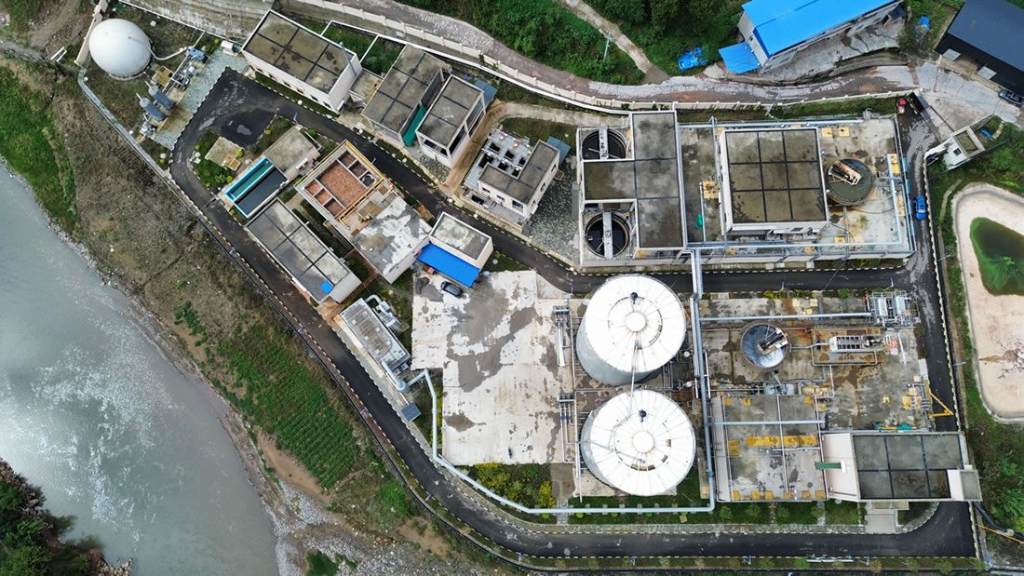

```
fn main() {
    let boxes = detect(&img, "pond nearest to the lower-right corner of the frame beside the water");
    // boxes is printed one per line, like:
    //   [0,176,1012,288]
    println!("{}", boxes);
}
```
[951,181,1024,424]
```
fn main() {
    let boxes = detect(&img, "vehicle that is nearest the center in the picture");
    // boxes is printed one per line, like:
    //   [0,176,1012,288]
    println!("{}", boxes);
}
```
[439,280,465,299]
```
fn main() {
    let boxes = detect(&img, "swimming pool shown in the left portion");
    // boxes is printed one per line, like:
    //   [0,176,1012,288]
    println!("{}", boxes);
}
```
[220,159,292,220]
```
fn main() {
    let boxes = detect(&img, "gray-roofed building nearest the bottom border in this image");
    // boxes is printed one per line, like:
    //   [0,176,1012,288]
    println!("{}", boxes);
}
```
[816,430,982,506]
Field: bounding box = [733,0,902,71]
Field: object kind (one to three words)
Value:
shed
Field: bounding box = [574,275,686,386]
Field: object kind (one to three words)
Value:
storage tank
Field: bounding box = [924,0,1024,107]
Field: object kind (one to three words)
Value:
building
